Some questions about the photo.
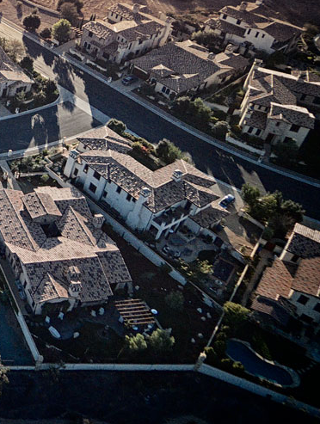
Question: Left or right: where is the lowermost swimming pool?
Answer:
right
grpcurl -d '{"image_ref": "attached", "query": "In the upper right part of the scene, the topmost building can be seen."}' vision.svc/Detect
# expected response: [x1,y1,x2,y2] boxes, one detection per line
[210,0,309,56]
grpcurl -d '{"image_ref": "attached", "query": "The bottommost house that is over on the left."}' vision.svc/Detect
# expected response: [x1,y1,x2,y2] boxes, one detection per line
[0,190,132,315]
